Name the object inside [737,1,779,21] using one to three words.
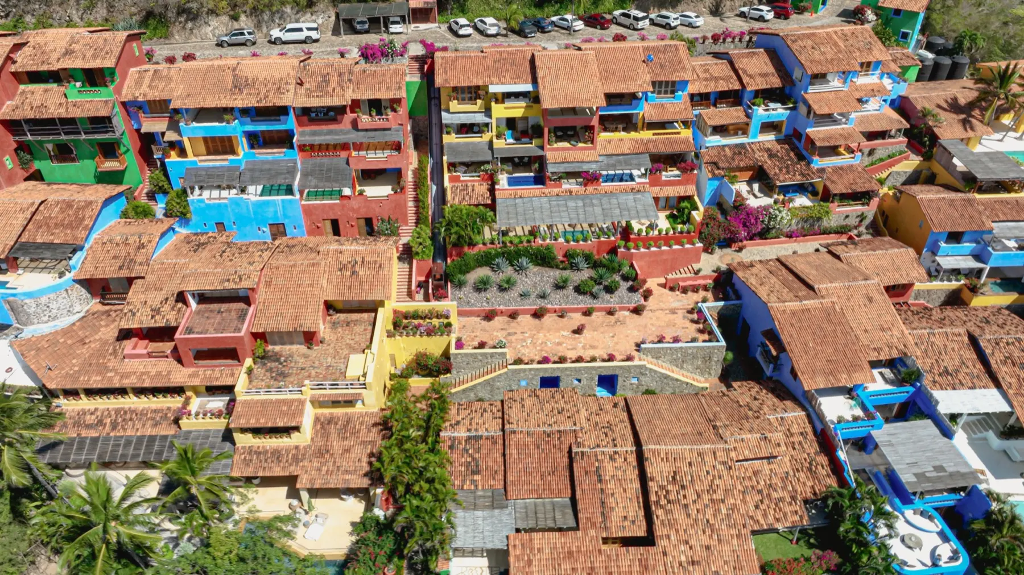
car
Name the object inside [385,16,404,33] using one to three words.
car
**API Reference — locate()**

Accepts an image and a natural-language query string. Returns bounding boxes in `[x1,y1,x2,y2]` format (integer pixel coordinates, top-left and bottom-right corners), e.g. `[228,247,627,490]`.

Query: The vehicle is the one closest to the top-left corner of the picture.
[213,25,258,46]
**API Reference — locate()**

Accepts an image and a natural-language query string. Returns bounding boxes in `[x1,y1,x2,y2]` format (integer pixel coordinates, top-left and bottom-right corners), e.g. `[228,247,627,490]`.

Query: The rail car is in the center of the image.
[432,268,444,287]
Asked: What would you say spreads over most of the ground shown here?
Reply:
buildings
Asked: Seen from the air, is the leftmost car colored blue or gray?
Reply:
gray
